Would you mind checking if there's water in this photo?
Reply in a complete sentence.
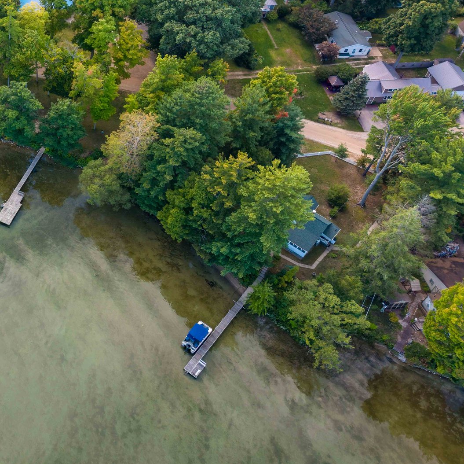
Yes, there's water in this view.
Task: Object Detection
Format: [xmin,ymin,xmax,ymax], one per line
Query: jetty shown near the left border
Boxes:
[0,147,45,228]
